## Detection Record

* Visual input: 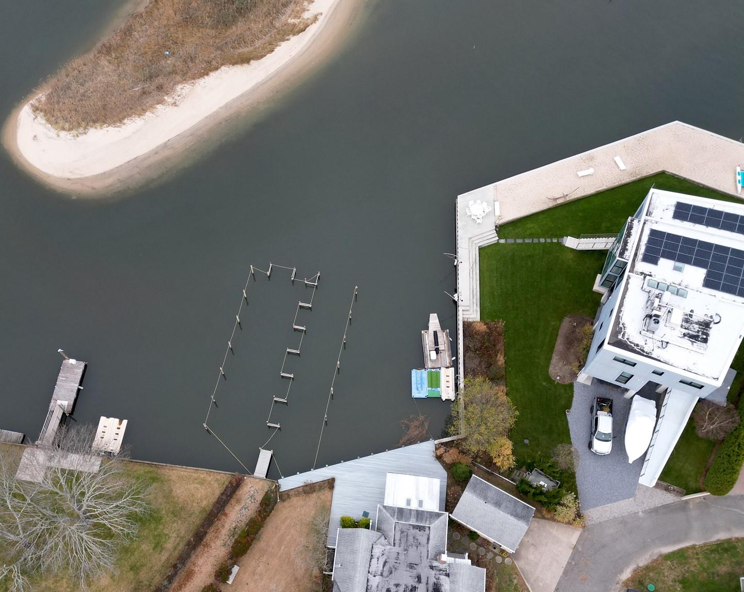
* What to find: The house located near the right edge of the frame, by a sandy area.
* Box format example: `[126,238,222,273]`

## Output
[580,183,744,404]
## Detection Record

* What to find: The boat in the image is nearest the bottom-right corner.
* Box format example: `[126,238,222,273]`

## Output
[623,396,653,464]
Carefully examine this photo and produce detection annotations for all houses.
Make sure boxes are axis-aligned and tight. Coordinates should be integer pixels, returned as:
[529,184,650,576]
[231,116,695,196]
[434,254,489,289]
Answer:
[324,472,486,592]
[580,183,744,404]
